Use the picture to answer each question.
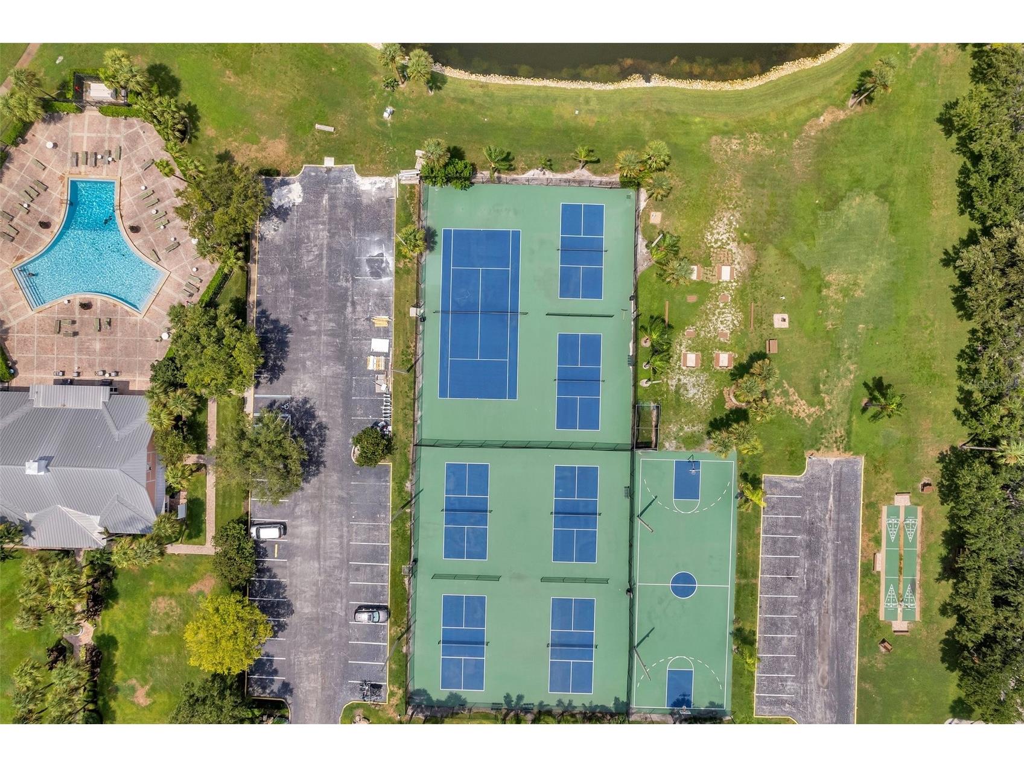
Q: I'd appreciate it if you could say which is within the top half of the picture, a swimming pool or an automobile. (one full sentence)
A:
There is a swimming pool within the top half of the picture.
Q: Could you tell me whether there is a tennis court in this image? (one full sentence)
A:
Yes, looking at the shot, I can spot a tennis court.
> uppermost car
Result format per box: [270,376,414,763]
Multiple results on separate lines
[249,524,284,541]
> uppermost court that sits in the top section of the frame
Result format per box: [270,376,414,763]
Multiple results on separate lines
[556,203,607,299]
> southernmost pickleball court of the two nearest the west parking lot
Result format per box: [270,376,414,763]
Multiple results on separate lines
[437,595,489,691]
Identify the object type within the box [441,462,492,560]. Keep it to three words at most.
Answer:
sports court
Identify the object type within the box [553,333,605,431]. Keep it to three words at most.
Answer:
sports court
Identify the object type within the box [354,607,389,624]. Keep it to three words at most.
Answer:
car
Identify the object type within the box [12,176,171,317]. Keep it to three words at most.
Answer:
swimming pool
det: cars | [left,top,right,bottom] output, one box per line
[249,524,284,541]
[354,607,389,624]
